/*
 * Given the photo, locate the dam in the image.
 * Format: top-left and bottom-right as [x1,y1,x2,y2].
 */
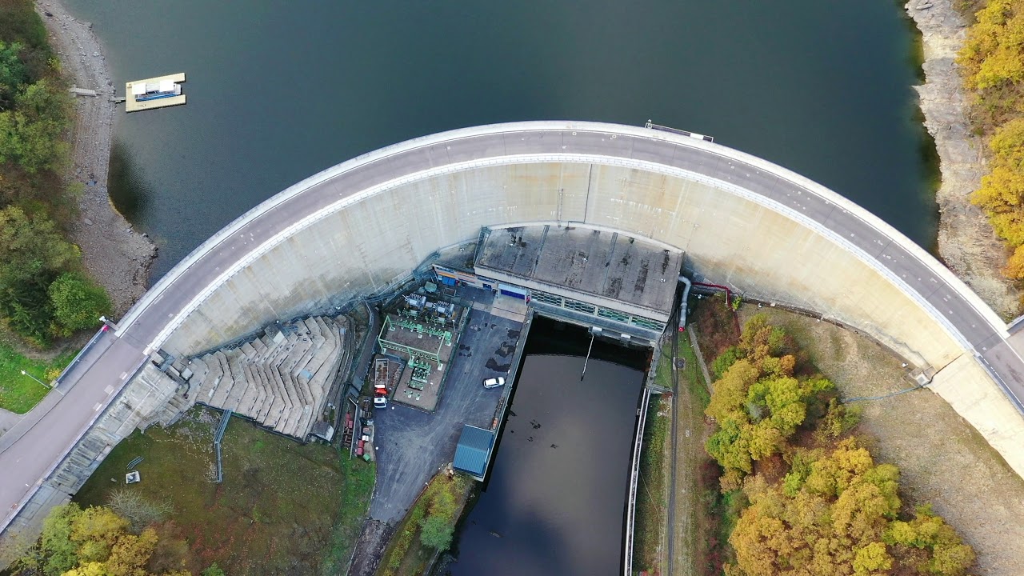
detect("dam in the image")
[117,120,1007,375]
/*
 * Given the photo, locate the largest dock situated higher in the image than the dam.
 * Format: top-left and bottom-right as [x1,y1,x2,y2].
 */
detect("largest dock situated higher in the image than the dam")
[125,73,186,114]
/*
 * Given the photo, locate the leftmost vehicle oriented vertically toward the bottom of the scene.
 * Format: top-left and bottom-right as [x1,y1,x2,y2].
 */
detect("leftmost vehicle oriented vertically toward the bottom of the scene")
[372,361,388,408]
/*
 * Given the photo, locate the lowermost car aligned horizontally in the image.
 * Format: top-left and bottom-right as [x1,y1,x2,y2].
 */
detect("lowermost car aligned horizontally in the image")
[483,377,505,389]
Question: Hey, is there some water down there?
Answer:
Yes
